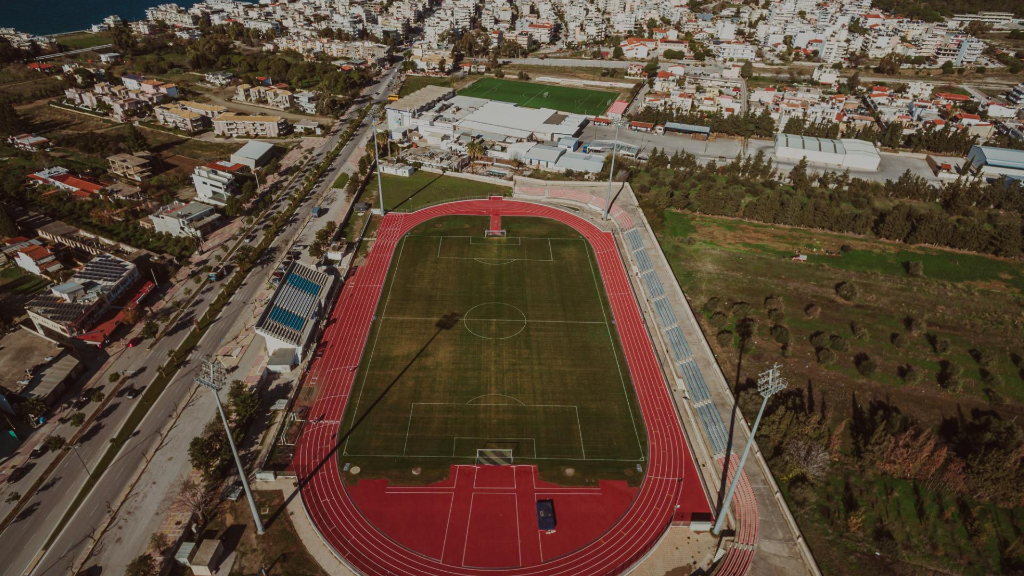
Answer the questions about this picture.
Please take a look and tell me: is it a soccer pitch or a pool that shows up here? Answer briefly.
soccer pitch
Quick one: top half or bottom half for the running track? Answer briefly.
bottom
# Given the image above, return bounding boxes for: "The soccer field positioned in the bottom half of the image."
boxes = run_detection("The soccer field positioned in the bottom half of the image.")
[338,215,648,489]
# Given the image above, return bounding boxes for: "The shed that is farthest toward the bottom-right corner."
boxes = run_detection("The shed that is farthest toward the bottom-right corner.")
[689,515,713,529]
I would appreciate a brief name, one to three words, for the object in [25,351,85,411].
shed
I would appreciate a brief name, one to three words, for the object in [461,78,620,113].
sports field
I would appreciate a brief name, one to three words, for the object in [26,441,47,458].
car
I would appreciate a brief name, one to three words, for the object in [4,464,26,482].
car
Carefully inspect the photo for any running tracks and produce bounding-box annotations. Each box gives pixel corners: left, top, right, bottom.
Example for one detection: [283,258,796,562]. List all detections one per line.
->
[284,200,718,576]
